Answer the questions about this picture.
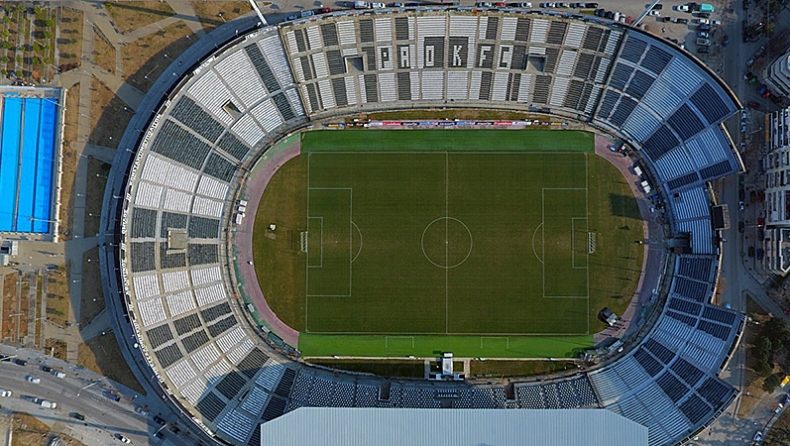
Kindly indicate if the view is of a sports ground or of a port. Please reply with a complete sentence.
The picture captures a sports ground.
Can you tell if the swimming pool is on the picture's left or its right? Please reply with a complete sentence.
It is on the left.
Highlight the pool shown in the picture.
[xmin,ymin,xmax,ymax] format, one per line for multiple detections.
[0,86,67,242]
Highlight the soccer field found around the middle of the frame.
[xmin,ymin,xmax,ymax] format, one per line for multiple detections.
[299,131,596,357]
